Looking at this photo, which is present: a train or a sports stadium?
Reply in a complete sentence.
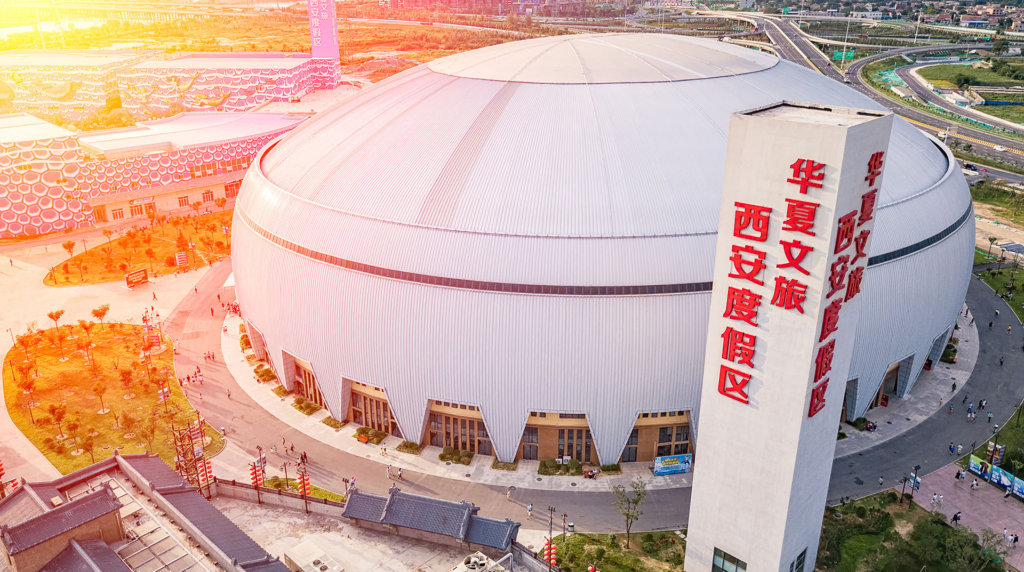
The image shows a sports stadium.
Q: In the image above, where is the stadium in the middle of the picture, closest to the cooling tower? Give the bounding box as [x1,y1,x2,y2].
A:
[231,30,977,466]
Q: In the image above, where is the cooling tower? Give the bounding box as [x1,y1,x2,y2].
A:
[451,548,509,572]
